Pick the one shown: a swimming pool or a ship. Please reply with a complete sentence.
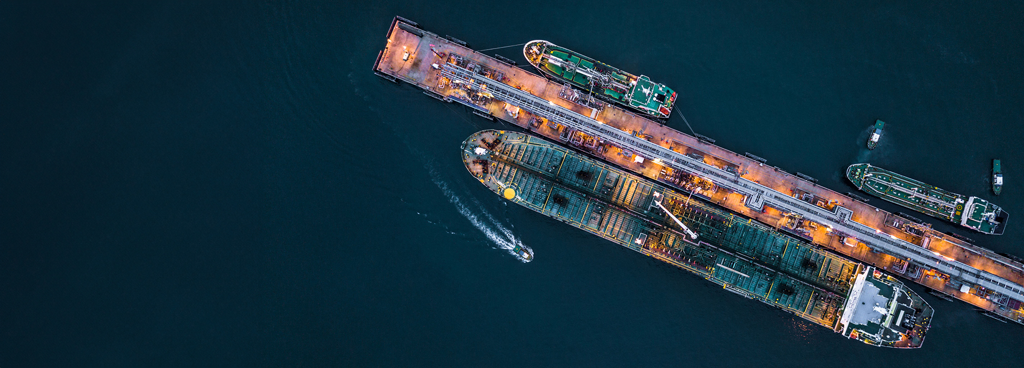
I can see a ship in this picture.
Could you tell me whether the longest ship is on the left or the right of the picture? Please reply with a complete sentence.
The longest ship appears in the right half of the scene.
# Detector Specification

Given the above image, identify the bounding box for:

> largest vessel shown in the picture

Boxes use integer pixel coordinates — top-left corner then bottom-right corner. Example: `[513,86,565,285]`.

[460,130,936,346]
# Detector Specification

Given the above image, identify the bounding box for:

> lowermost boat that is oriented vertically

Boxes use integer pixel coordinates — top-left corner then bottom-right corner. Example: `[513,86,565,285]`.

[992,159,1004,196]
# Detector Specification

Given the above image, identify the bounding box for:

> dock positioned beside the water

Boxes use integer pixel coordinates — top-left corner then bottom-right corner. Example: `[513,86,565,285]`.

[374,16,1024,322]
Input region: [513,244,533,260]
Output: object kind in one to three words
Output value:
boat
